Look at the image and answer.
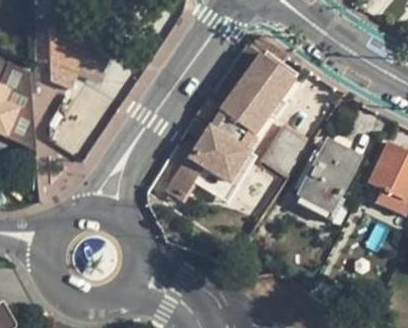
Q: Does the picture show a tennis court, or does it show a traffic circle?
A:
traffic circle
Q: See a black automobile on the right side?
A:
No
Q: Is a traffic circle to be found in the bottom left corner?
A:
Yes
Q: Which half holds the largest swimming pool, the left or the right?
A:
right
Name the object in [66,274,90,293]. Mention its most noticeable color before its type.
white car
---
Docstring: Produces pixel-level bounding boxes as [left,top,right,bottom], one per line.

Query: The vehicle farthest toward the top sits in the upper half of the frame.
[306,43,327,60]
